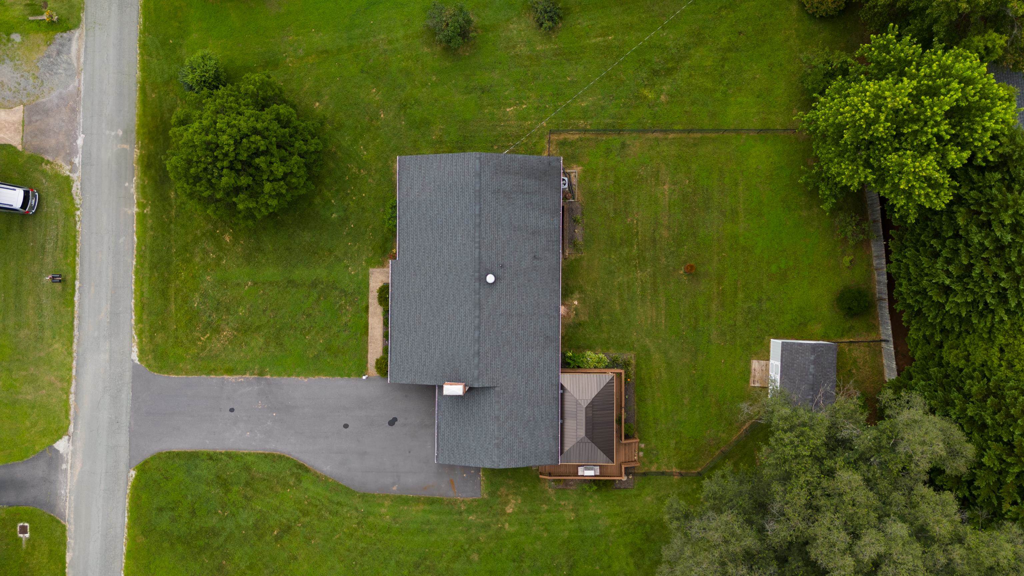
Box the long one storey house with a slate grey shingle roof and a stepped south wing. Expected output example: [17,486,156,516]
[389,152,563,468]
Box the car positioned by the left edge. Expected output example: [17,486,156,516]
[0,182,42,215]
